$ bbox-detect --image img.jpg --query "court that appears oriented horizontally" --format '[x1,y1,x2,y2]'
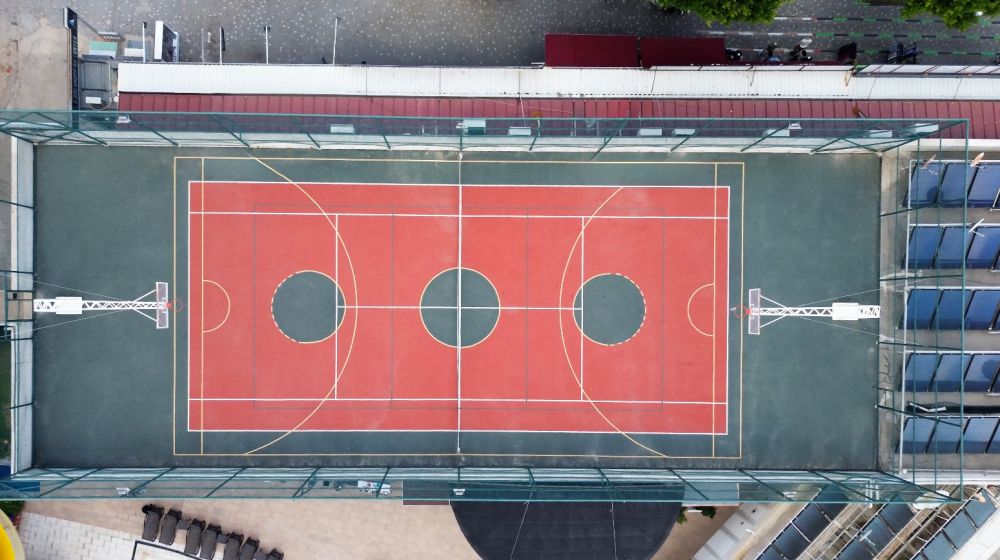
[32,146,882,470]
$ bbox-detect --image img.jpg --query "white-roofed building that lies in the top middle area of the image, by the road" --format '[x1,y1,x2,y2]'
[32,32,1000,153]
